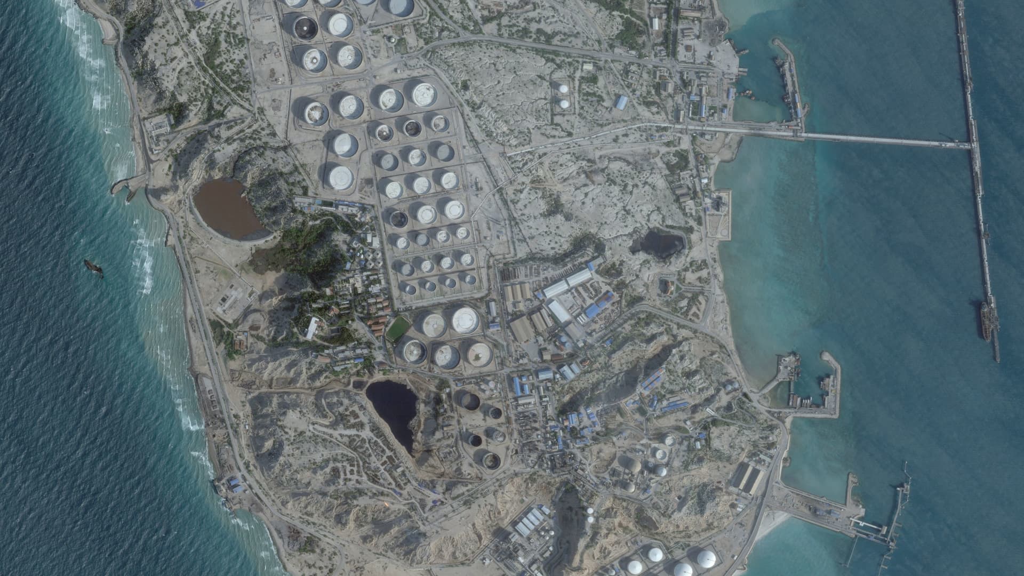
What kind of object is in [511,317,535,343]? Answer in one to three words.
building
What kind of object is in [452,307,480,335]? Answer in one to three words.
storage tank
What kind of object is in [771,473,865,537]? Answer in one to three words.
pier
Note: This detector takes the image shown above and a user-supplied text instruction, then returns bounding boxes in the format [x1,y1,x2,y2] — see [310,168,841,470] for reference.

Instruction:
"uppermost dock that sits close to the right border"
[956,0,1001,362]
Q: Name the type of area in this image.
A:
port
